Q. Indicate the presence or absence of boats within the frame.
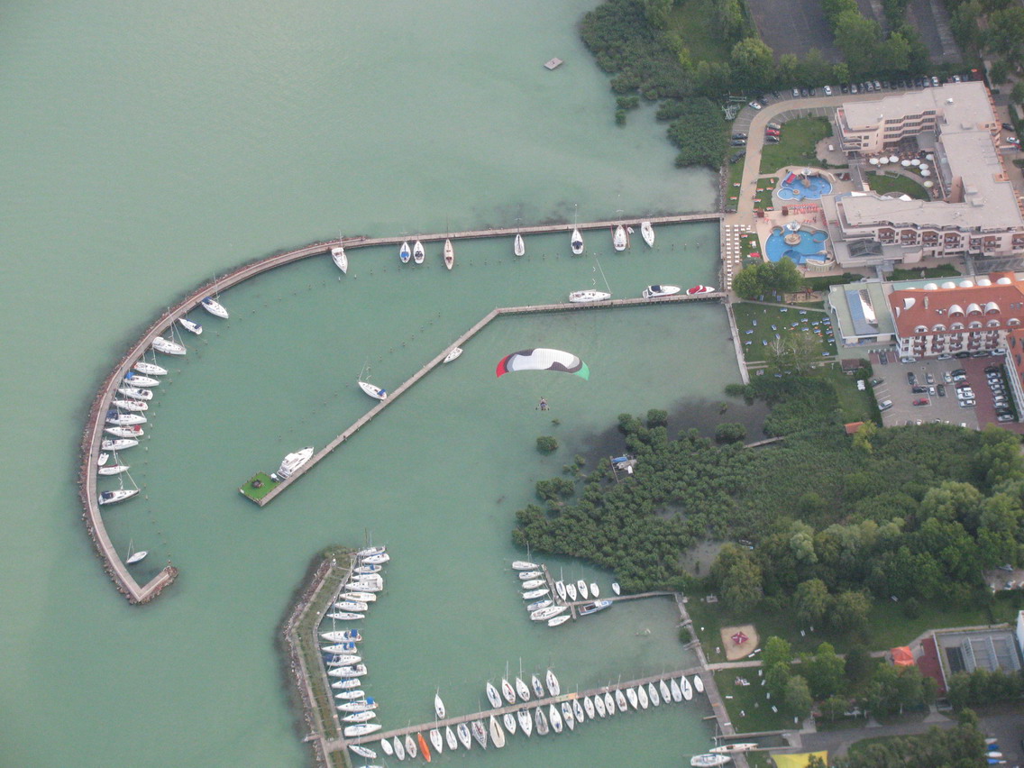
Yes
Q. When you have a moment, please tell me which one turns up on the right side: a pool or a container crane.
pool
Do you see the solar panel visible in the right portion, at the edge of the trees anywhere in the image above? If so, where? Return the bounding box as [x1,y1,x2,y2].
[946,646,968,674]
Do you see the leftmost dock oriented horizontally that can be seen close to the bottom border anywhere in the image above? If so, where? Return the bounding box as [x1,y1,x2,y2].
[334,665,702,750]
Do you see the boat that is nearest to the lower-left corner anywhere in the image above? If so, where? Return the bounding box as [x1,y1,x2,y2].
[127,544,149,563]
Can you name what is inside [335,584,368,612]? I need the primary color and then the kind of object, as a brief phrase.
white boat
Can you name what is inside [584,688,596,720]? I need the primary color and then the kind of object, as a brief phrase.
white boat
